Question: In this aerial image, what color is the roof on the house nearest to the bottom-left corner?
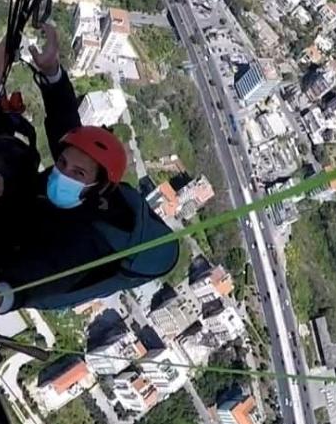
white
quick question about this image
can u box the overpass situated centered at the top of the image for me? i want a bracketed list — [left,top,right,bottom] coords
[167,0,216,66]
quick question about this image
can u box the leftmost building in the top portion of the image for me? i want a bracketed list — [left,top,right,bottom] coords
[77,1,101,52]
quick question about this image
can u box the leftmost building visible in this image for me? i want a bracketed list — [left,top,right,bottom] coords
[39,385,66,411]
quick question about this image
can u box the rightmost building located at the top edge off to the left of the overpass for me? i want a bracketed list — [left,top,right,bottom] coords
[103,8,131,51]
